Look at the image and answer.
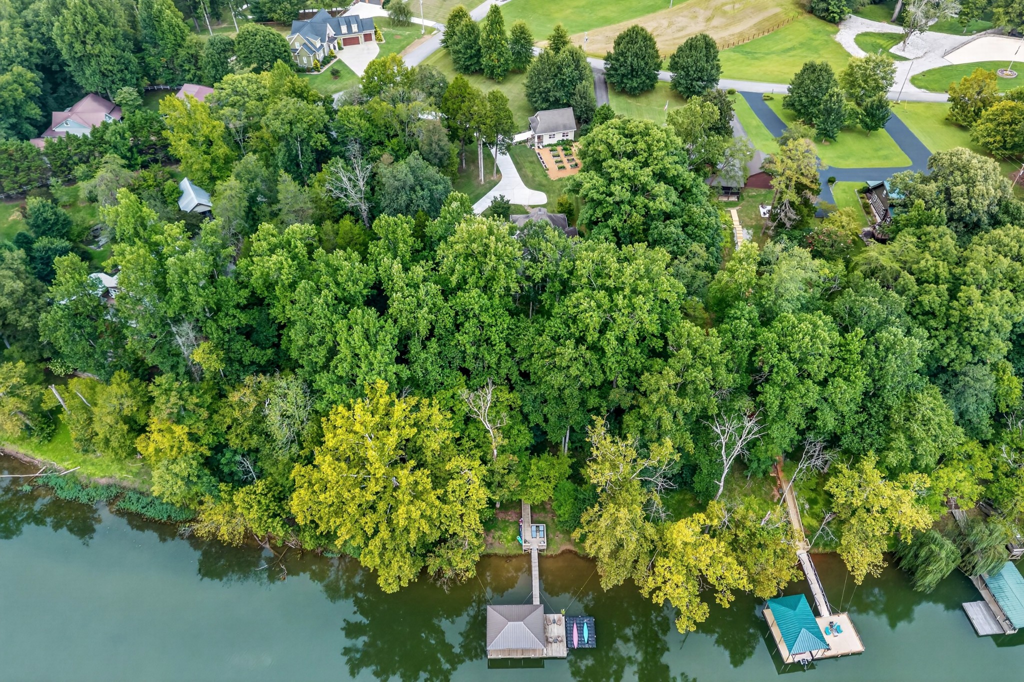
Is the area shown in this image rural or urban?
rural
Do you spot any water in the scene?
Yes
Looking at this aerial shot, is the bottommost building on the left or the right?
right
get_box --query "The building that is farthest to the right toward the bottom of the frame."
[971,554,1024,638]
